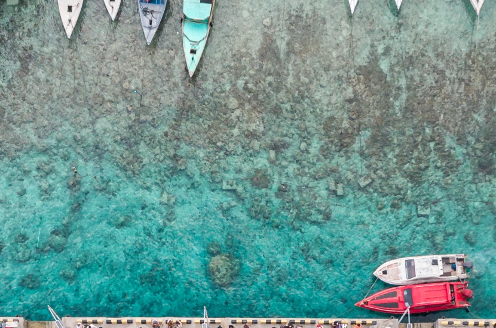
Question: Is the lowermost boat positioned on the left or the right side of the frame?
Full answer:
You can find the lowermost boat on the right side of the picture.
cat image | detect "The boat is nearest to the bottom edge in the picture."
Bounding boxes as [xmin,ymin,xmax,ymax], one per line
[354,281,474,314]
